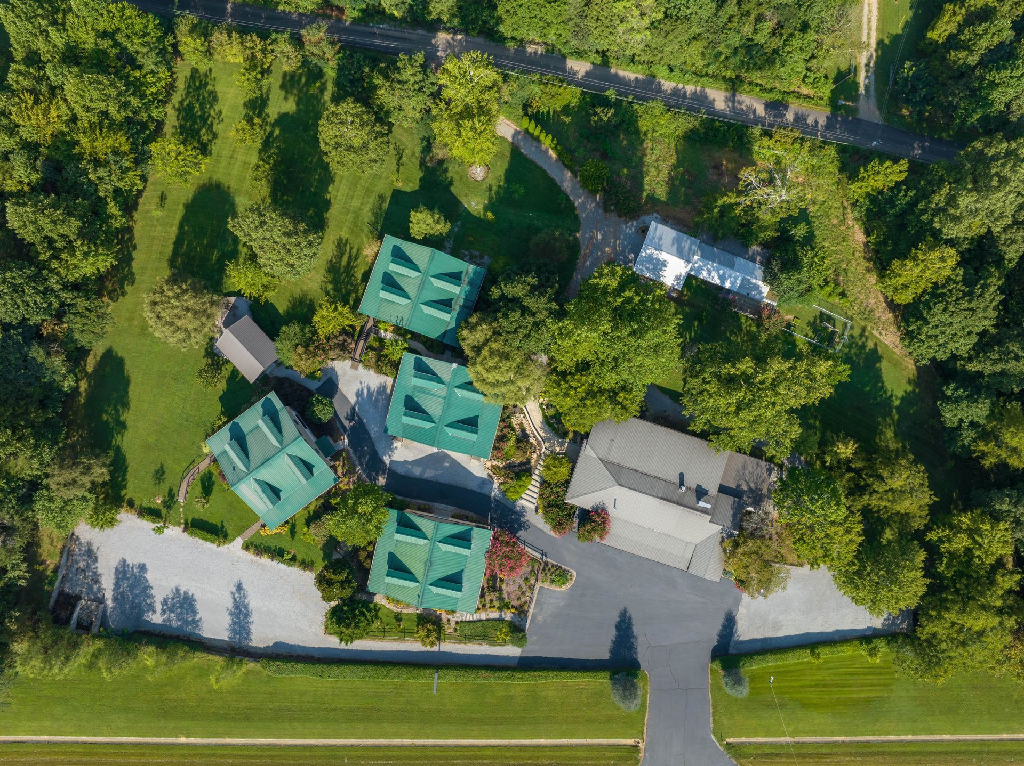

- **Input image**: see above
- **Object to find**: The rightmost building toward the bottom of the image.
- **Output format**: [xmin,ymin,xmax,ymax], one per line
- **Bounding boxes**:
[565,410,772,583]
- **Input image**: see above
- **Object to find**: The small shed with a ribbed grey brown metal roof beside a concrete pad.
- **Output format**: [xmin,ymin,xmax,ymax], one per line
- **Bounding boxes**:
[216,315,281,383]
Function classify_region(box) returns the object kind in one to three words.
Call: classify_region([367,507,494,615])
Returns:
building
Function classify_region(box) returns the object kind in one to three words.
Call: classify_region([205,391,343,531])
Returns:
building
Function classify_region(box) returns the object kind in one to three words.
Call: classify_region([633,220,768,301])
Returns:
house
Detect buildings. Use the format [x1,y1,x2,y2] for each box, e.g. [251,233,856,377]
[367,507,494,615]
[383,353,507,460]
[358,235,487,347]
[205,391,343,531]
[565,410,772,583]
[633,220,768,301]
[216,315,281,383]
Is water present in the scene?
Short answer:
No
